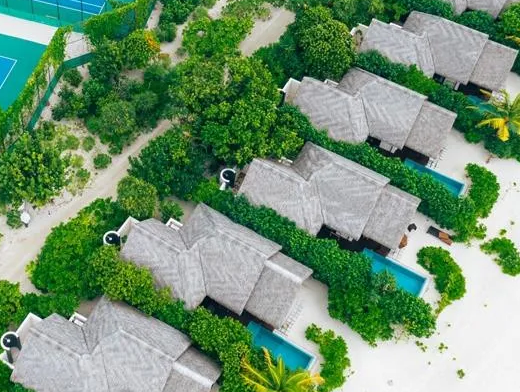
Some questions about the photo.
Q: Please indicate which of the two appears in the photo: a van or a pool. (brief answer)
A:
pool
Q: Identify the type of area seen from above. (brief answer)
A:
residential area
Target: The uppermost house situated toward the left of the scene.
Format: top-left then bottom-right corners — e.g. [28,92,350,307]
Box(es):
[100,198,313,340]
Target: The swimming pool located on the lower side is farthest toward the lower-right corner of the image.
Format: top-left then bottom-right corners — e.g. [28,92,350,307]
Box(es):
[363,243,431,300]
